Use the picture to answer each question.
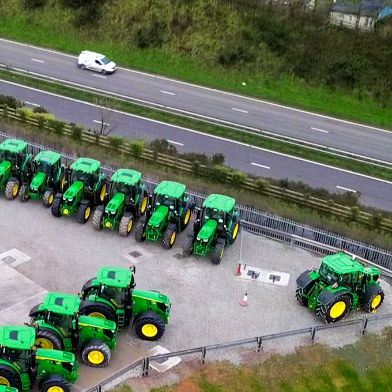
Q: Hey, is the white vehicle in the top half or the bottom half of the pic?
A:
top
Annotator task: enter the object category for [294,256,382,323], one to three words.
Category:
work vehicle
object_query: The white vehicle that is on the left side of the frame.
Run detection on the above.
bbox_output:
[77,46,116,71]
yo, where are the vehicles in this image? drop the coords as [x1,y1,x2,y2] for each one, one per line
[50,160,105,225]
[0,329,80,392]
[78,273,167,340]
[92,172,148,239]
[18,146,68,208]
[136,182,190,251]
[27,300,121,369]
[0,141,33,202]
[294,256,382,323]
[183,196,240,267]
[77,46,116,71]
